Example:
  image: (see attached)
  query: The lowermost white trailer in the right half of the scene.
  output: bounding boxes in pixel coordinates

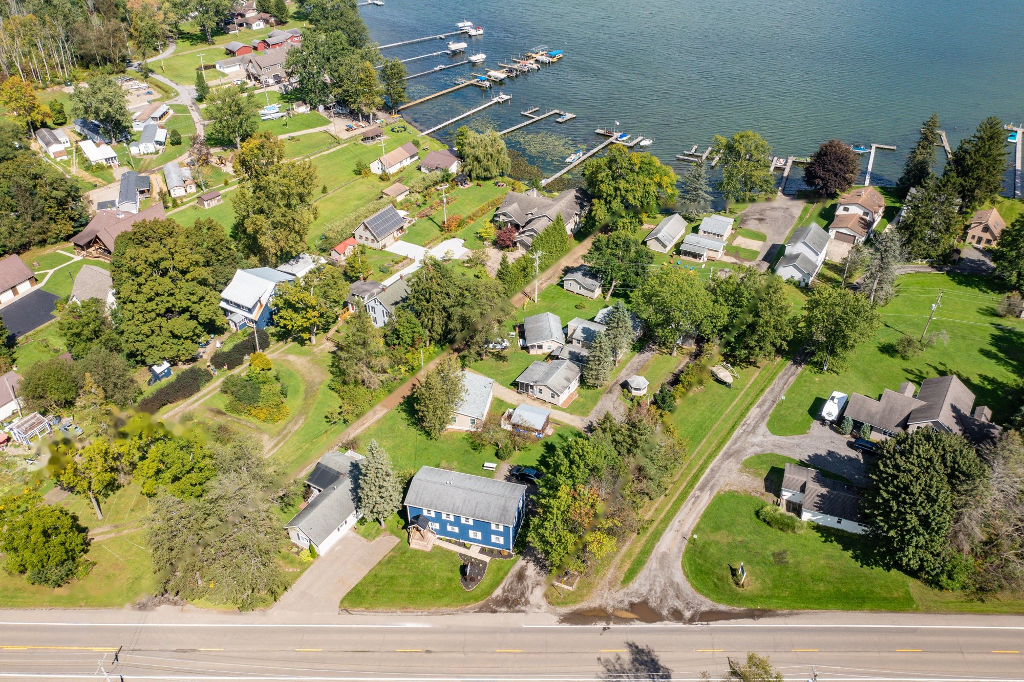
[819,387,849,430]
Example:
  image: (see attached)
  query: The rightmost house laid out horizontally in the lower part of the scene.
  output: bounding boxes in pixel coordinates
[843,375,1005,456]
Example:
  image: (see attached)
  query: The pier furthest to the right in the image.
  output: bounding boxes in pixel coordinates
[1004,126,1024,200]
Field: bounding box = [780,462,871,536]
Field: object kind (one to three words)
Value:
shed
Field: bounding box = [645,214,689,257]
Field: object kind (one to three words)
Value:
house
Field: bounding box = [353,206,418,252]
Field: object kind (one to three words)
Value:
barn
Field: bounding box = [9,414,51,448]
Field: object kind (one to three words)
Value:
greenhouse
